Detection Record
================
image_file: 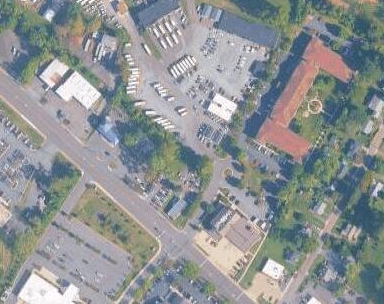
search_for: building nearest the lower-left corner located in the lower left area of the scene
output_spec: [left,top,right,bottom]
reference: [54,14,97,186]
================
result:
[14,272,80,304]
